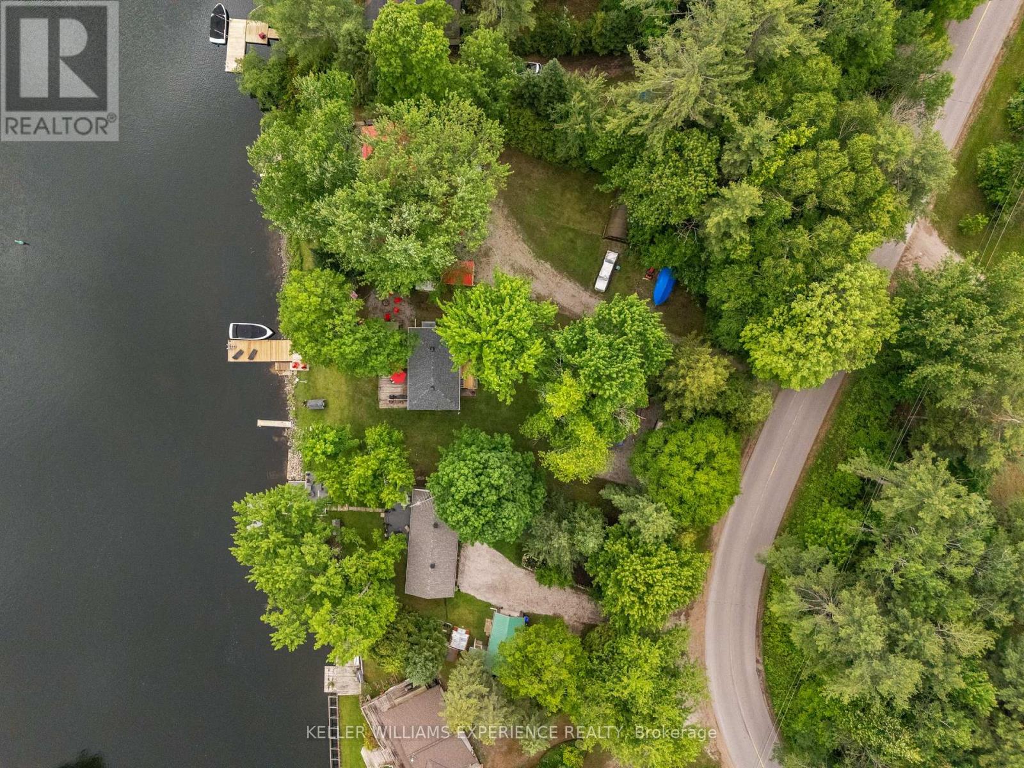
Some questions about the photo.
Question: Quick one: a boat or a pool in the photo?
boat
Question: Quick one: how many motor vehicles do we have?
2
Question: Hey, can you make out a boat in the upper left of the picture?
Yes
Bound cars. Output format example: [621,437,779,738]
[510,58,545,78]
[596,250,618,294]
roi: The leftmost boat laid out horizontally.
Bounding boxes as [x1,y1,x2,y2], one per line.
[230,323,276,340]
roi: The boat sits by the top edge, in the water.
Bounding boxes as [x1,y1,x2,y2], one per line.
[210,1,228,50]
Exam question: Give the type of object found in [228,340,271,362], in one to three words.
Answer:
pier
